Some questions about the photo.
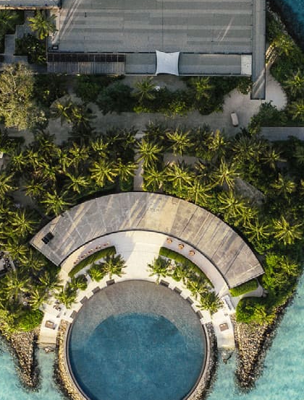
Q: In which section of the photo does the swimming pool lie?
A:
bottom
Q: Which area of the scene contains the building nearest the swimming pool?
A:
center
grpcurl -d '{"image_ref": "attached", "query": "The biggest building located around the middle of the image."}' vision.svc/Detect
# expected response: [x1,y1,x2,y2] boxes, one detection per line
[29,190,264,288]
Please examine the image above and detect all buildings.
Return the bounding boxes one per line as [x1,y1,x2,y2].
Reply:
[49,0,267,101]
[29,190,264,288]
